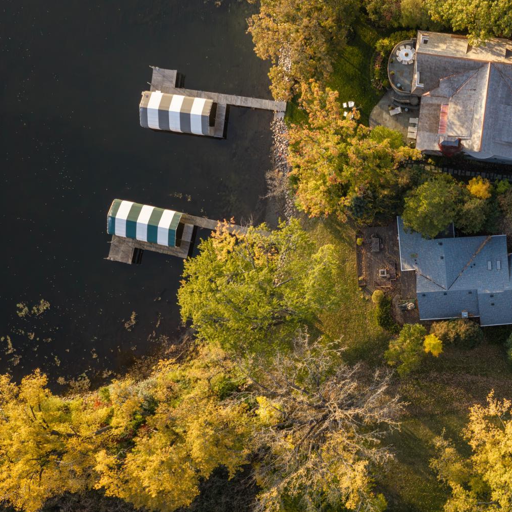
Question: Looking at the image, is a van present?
No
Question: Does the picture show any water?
Yes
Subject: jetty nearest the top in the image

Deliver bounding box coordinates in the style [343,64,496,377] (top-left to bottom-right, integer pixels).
[146,65,280,139]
